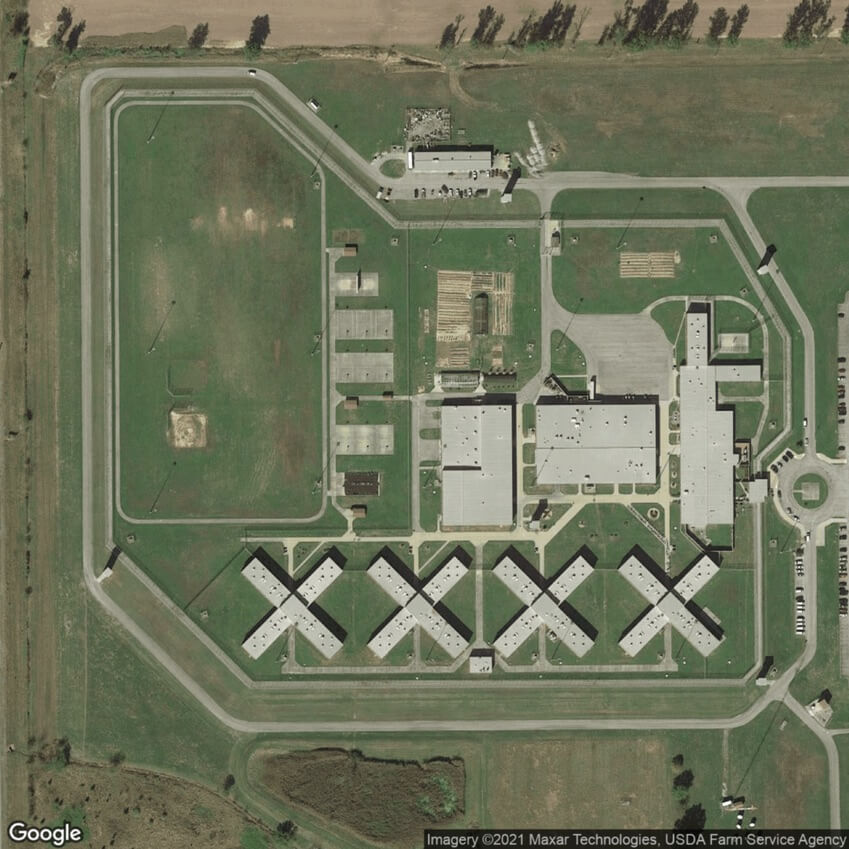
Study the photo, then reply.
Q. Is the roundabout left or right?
right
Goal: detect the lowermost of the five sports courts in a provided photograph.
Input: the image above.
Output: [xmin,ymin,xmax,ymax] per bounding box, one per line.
[335,425,394,455]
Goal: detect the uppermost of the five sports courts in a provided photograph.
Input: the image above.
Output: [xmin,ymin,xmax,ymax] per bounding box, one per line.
[335,273,378,296]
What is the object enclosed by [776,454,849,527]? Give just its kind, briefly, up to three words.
roundabout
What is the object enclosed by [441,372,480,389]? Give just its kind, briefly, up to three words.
greenhouse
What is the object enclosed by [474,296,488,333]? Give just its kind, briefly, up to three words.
building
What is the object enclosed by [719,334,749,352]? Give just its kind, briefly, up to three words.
sports court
